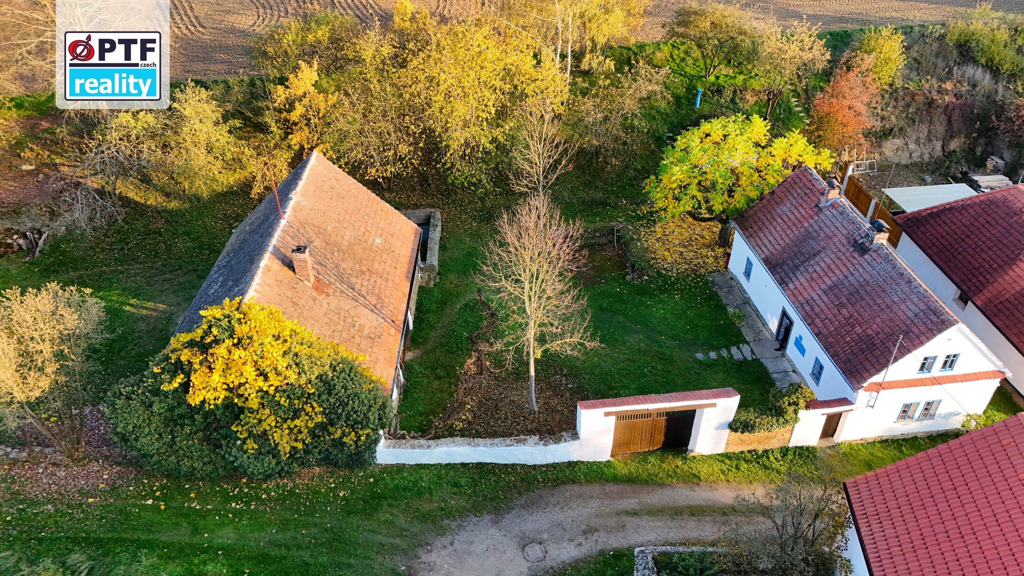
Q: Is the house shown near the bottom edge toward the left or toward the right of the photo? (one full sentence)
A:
You can find the house shown near the bottom edge on the right side of the picture.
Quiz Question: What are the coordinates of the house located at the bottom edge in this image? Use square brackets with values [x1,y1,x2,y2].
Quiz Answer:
[826,410,1024,576]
